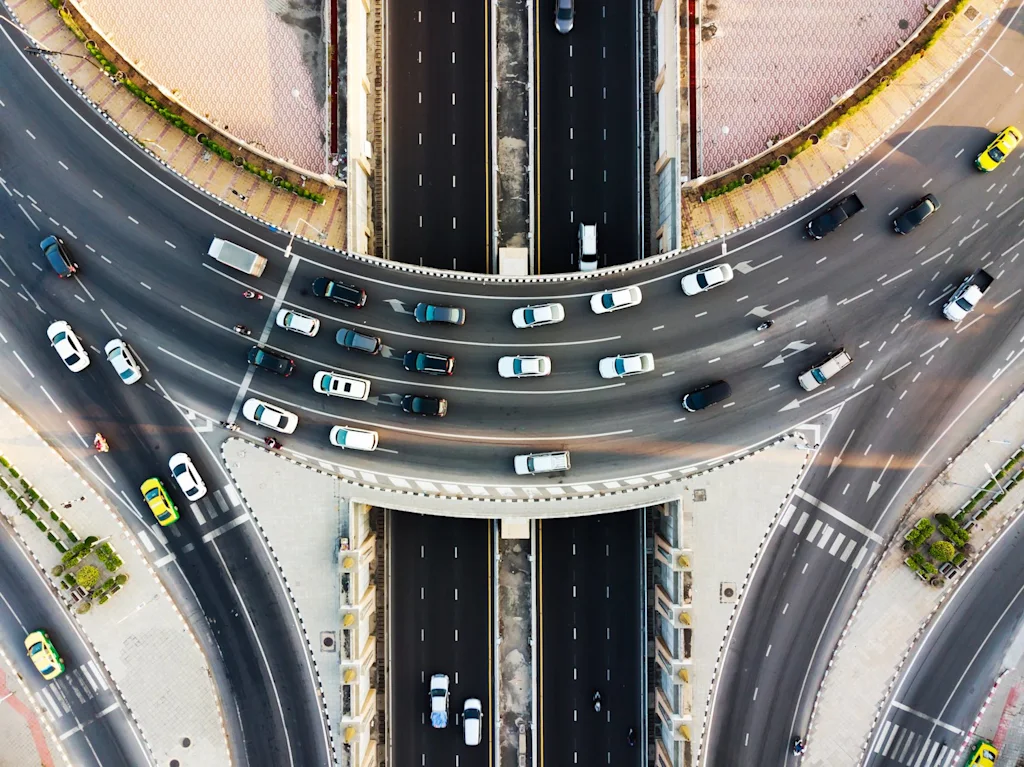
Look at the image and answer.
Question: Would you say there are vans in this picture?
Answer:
Yes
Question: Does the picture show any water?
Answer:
No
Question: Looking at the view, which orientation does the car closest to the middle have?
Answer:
horizontally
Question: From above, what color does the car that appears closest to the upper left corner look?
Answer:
blue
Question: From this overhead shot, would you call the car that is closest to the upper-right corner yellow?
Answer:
Yes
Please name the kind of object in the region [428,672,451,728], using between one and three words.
truck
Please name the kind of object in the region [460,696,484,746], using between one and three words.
car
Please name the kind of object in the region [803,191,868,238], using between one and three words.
truck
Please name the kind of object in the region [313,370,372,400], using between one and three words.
van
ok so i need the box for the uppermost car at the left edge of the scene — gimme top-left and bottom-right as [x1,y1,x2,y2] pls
[40,234,80,280]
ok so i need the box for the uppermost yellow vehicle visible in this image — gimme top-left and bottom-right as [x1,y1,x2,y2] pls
[969,123,1024,171]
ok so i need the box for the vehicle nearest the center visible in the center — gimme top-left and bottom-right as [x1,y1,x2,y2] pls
[499,354,550,379]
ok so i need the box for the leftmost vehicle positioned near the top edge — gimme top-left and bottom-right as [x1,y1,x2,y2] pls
[554,0,577,34]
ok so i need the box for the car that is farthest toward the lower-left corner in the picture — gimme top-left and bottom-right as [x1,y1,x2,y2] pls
[24,629,71,681]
